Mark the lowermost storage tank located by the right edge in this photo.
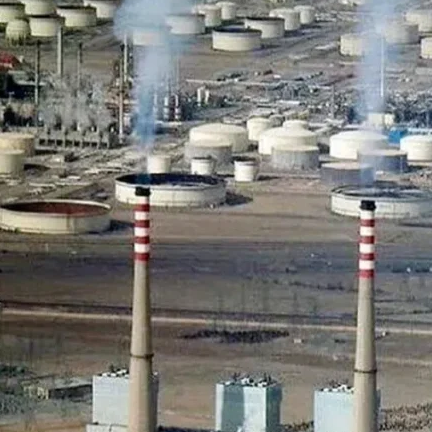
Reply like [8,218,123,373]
[331,185,432,219]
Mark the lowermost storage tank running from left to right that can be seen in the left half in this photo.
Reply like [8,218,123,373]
[0,198,115,234]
